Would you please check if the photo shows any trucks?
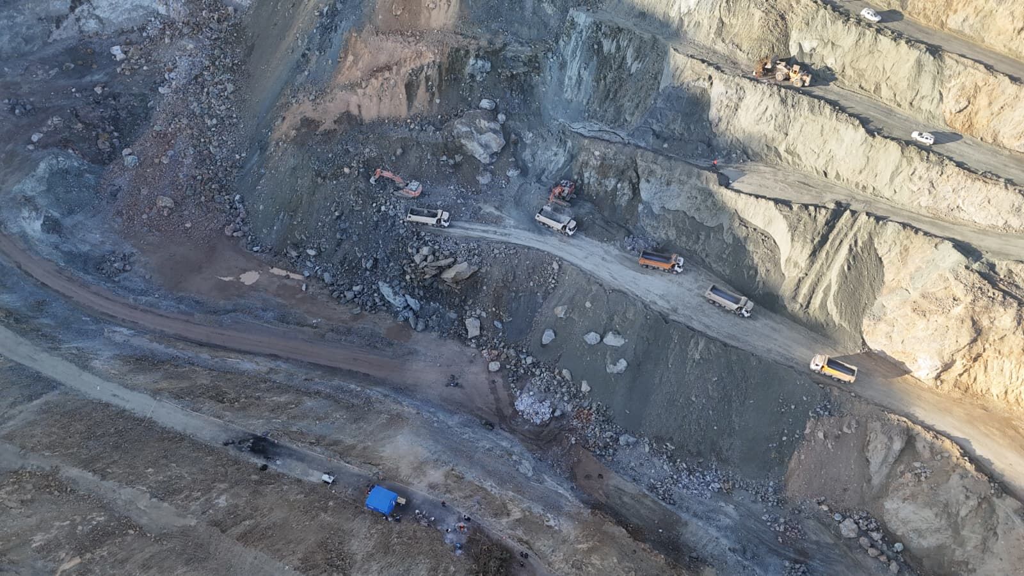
Yes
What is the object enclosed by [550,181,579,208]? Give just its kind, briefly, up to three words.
work vehicle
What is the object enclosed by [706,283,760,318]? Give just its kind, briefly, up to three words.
truck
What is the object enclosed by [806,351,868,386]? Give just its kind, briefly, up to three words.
truck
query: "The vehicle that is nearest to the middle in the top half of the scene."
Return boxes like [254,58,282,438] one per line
[534,205,580,237]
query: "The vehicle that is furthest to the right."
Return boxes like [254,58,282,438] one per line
[910,131,940,146]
